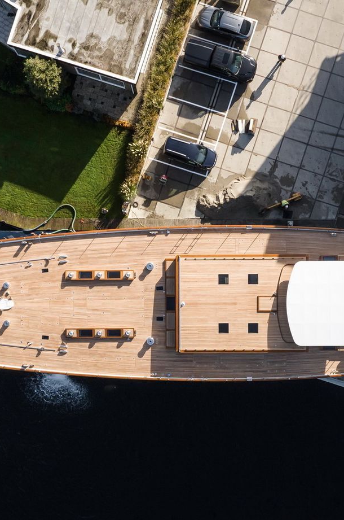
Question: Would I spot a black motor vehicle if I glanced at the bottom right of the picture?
No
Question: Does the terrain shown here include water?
Yes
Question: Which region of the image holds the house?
top left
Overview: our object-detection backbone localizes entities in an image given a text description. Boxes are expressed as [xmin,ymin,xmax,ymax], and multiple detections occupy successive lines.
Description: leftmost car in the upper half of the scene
[161,135,220,171]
